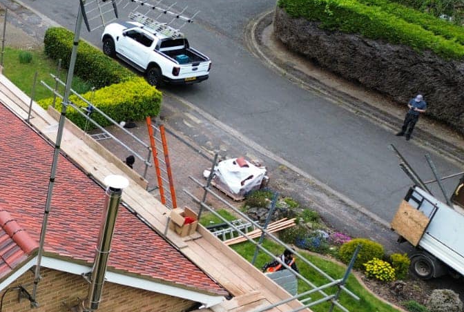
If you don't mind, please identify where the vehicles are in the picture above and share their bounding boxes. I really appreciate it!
[387,177,464,274]
[100,19,210,85]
